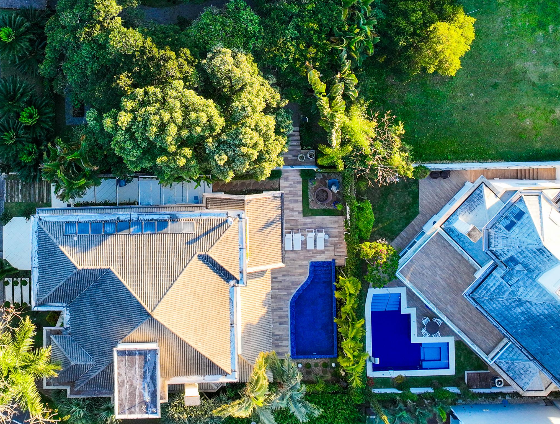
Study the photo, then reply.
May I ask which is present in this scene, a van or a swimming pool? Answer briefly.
swimming pool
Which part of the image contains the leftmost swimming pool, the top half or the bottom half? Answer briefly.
bottom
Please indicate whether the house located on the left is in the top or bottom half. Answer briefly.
bottom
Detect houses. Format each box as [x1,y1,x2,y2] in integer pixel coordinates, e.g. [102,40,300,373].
[390,164,560,397]
[30,183,288,424]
